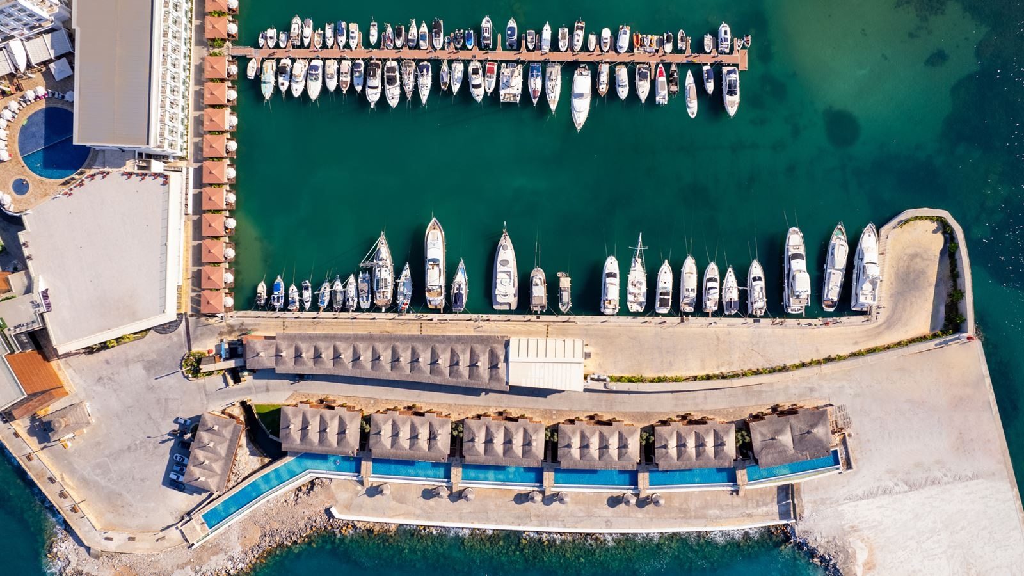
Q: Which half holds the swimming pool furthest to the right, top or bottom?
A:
bottom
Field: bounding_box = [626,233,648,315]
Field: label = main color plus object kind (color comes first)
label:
white boat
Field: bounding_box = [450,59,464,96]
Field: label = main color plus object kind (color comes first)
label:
white boat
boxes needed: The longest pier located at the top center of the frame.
[253,32,747,80]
